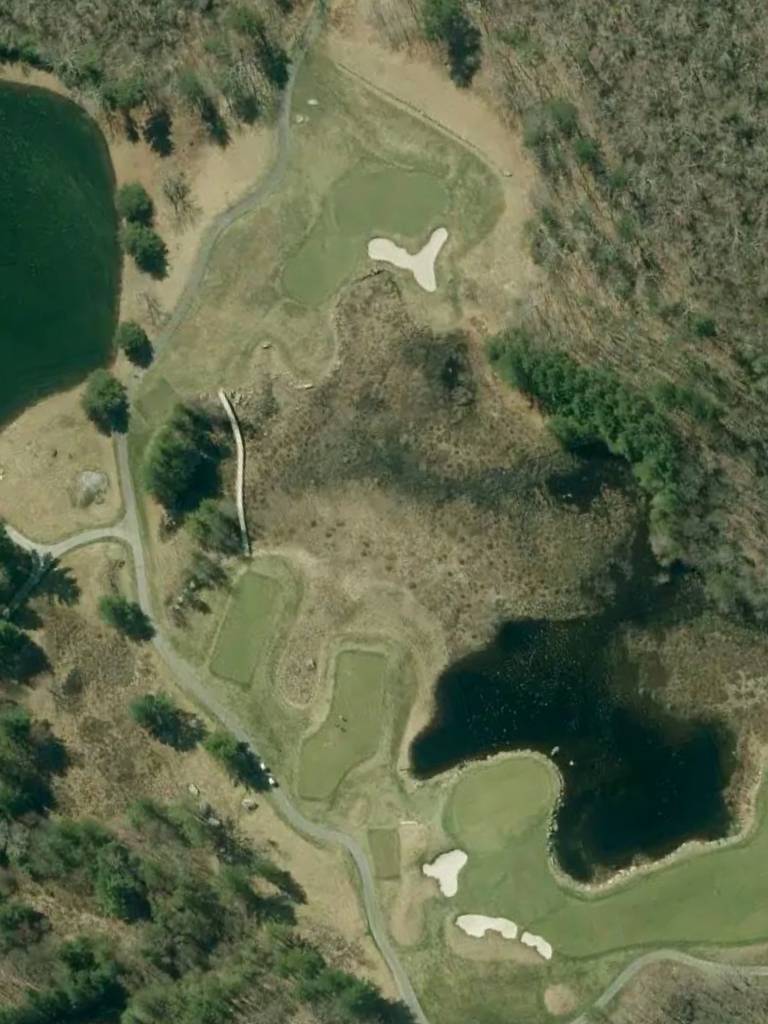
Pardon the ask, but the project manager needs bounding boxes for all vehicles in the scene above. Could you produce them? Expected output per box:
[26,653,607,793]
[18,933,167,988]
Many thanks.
[267,775,276,785]
[259,760,267,770]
